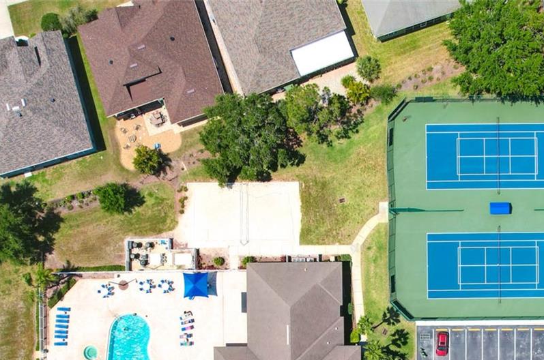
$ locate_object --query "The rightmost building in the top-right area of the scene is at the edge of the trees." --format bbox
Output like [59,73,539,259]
[364,0,458,43]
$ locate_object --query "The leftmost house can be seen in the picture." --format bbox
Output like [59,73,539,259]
[0,26,97,176]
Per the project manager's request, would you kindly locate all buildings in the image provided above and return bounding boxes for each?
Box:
[364,0,458,43]
[79,0,226,133]
[214,262,362,360]
[0,26,97,176]
[209,0,355,98]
